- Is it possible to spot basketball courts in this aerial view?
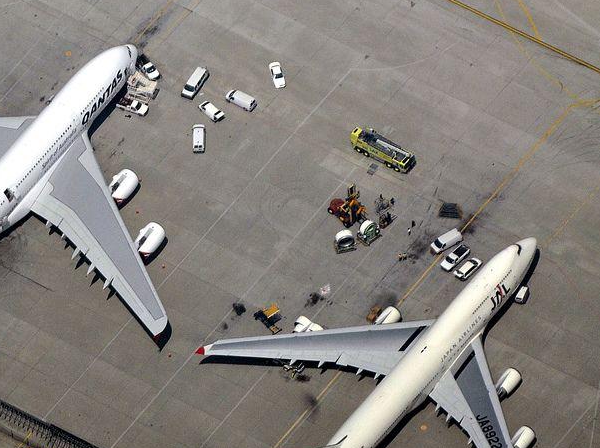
No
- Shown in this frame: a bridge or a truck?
truck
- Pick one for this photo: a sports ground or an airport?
airport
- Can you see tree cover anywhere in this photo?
No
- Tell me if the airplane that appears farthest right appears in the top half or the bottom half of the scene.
bottom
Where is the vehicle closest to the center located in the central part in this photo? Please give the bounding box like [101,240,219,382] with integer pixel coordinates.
[328,197,373,224]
